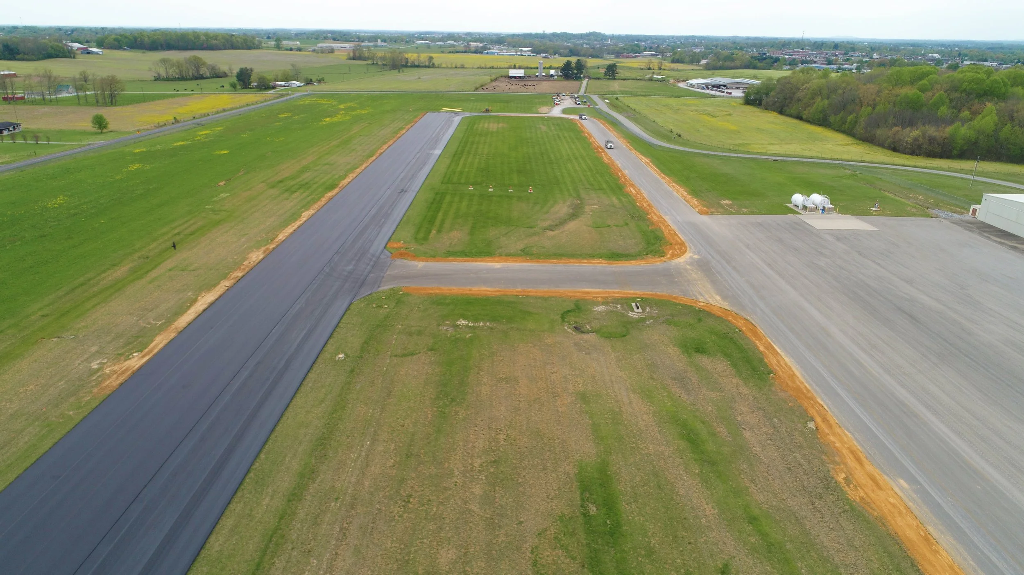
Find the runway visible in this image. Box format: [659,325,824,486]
[0,113,467,575]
